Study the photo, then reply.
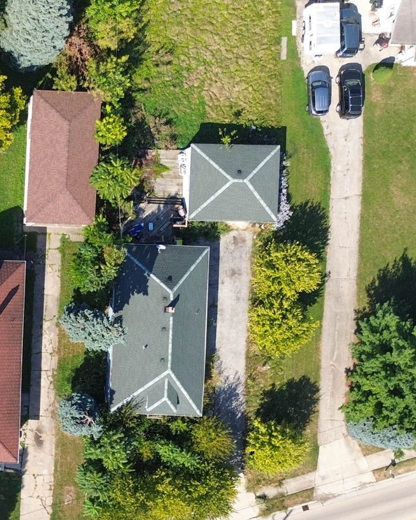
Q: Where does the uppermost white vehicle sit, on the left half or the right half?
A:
right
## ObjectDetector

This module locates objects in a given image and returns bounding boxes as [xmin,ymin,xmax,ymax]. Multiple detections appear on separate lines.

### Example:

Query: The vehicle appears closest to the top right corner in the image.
[338,8,365,57]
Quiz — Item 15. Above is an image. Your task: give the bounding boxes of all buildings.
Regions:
[179,142,281,225]
[104,241,210,418]
[23,88,103,227]
[0,259,26,471]
[385,0,416,67]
